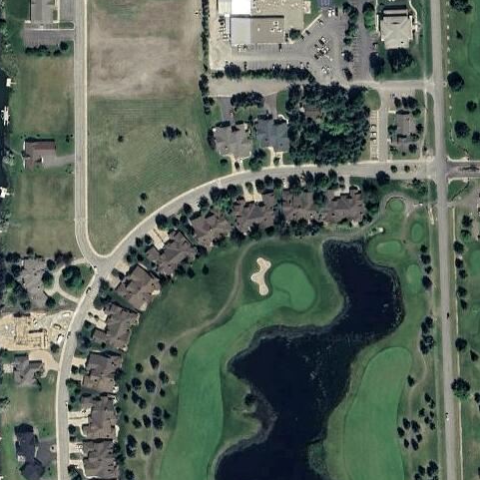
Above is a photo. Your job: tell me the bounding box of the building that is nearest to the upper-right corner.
[381,8,412,50]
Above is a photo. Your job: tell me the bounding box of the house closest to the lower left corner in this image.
[13,424,46,480]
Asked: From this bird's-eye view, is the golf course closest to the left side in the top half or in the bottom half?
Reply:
bottom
